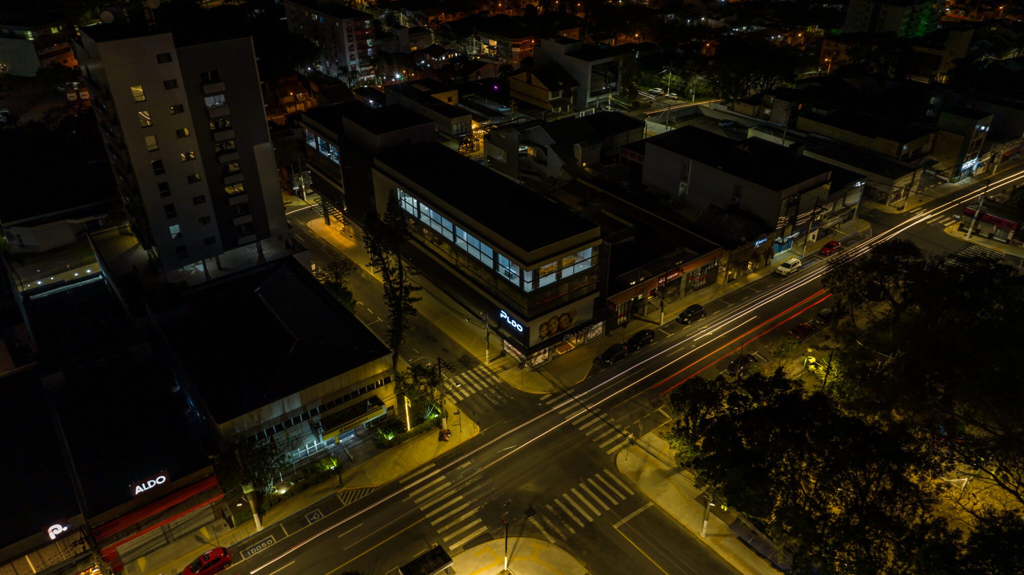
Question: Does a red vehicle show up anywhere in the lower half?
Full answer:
Yes, I can see a red vehicle in the lower half.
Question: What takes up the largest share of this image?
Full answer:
For the most part, this view shows buildings.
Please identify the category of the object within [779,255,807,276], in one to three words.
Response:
car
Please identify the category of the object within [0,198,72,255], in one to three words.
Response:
house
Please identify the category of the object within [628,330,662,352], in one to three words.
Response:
car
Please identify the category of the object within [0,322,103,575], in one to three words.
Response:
building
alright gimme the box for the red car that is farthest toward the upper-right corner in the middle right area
[821,238,845,255]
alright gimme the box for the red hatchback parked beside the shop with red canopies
[178,542,231,575]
